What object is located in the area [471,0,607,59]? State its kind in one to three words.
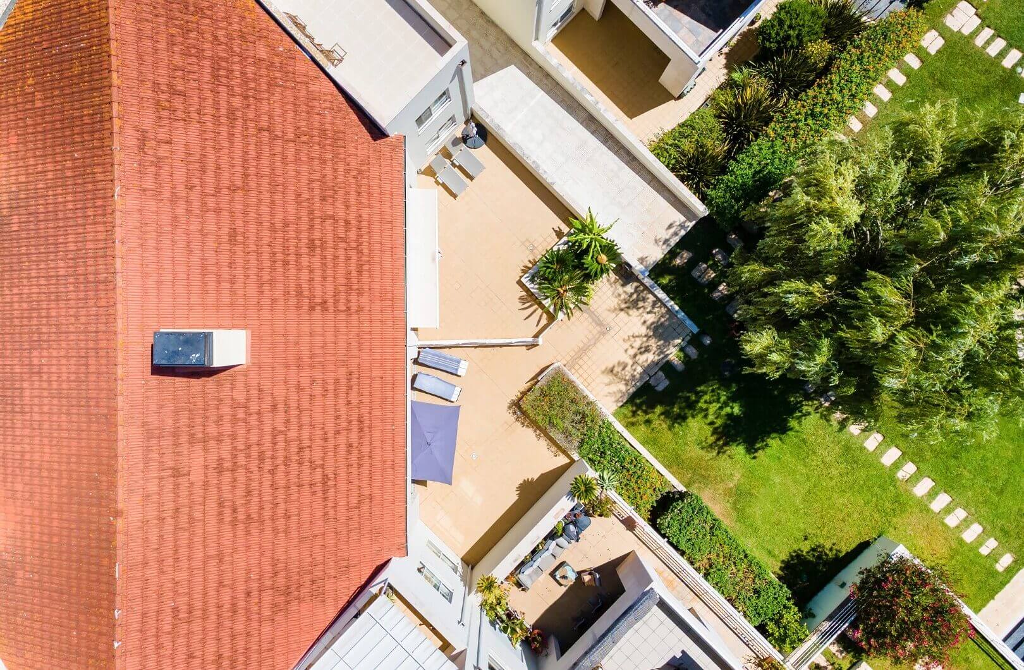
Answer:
house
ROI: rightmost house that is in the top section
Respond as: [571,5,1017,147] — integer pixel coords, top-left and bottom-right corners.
[612,0,771,97]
